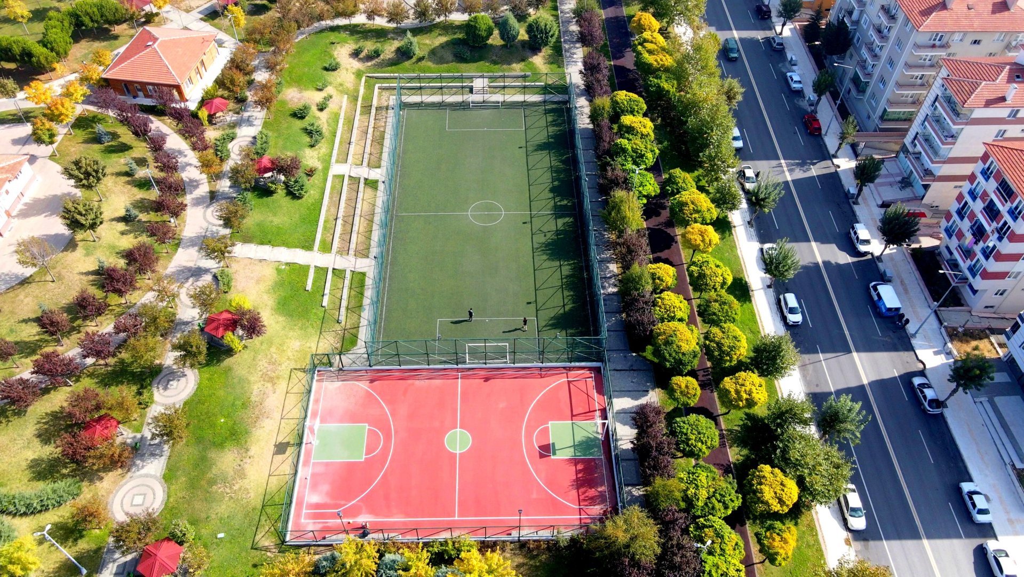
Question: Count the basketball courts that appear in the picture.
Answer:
1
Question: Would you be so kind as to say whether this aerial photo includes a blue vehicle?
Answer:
Yes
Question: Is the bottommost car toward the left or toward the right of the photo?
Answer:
right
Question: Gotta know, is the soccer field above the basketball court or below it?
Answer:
above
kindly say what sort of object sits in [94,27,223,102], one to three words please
building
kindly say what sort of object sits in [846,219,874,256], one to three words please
car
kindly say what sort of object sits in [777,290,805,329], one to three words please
car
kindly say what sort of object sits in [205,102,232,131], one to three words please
gazebo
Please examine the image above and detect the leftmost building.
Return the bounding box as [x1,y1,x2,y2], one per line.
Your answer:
[0,150,43,238]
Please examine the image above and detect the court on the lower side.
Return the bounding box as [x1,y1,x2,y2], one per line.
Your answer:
[282,363,624,545]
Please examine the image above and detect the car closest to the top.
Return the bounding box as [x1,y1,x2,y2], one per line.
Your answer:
[755,2,773,20]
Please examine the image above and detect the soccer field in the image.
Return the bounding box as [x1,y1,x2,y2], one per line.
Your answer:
[368,102,603,366]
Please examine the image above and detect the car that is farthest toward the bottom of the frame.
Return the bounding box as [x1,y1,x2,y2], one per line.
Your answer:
[979,535,1023,577]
